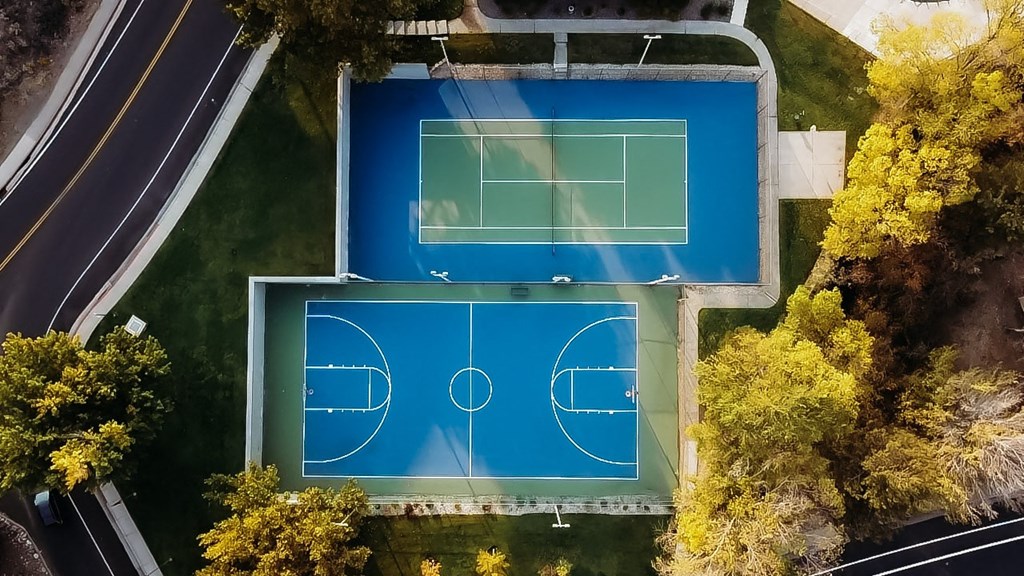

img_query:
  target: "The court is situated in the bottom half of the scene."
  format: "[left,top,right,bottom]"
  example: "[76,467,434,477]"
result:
[263,282,679,497]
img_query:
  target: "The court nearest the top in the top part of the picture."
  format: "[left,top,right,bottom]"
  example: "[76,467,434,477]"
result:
[349,79,758,281]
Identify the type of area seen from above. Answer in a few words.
sports ground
